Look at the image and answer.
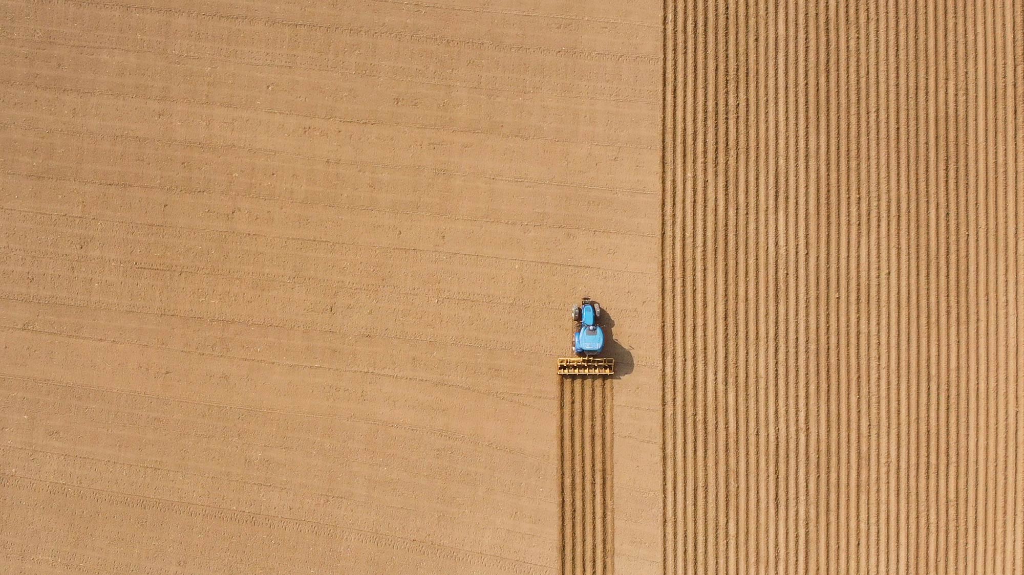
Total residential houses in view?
0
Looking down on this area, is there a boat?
No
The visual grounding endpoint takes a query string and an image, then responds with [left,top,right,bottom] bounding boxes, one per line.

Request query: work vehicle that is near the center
[572,297,607,358]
